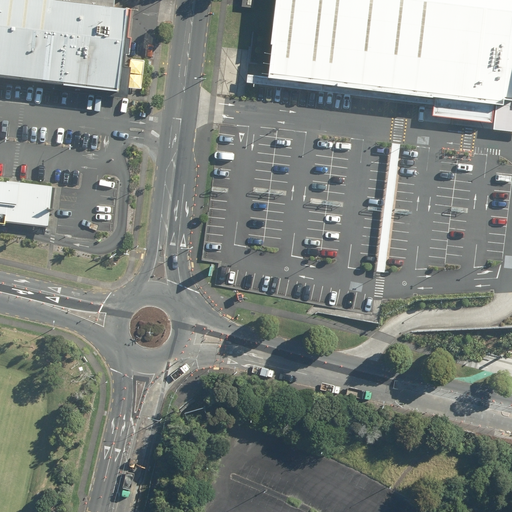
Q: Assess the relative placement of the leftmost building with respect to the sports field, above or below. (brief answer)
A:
above it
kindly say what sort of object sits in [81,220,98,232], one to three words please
vehicle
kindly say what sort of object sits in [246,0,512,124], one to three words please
building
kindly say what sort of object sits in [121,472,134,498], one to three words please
vehicle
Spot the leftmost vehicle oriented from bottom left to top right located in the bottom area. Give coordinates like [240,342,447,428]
[164,362,191,384]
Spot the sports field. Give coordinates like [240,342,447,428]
[0,370,46,512]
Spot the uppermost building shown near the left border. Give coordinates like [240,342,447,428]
[0,0,138,96]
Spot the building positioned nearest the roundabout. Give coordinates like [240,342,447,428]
[0,180,52,226]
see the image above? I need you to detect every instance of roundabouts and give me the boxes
[130,306,172,348]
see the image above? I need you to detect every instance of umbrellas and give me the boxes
[128,74,143,89]
[130,59,145,74]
